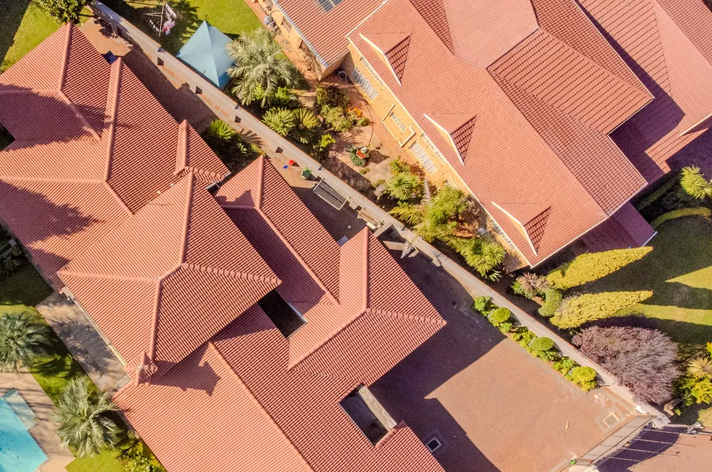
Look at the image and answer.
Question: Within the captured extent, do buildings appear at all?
Yes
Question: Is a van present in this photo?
No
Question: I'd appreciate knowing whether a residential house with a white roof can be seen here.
No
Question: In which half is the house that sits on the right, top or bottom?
top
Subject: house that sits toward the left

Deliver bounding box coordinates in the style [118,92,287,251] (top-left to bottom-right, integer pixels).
[0,21,447,472]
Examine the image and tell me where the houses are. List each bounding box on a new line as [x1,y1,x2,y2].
[0,21,447,472]
[253,0,712,267]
